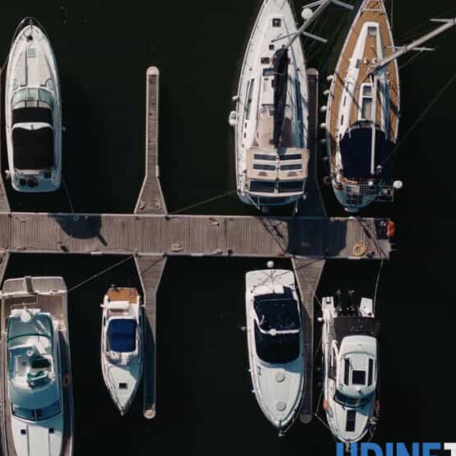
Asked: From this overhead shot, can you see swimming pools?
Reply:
No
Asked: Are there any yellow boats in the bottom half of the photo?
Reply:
No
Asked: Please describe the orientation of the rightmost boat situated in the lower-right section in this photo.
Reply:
from top to bottom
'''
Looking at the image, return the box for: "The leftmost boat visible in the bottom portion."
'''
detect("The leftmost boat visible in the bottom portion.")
[0,275,74,456]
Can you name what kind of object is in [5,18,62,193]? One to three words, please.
boat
